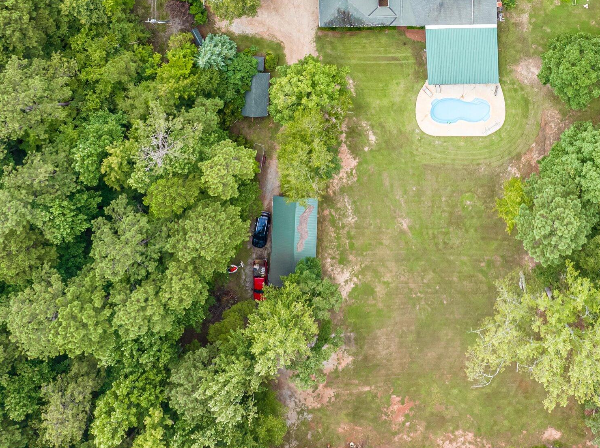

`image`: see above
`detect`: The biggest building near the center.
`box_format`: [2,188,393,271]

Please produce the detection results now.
[269,195,320,288]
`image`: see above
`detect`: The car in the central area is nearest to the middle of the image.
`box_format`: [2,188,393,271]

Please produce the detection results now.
[253,210,272,247]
